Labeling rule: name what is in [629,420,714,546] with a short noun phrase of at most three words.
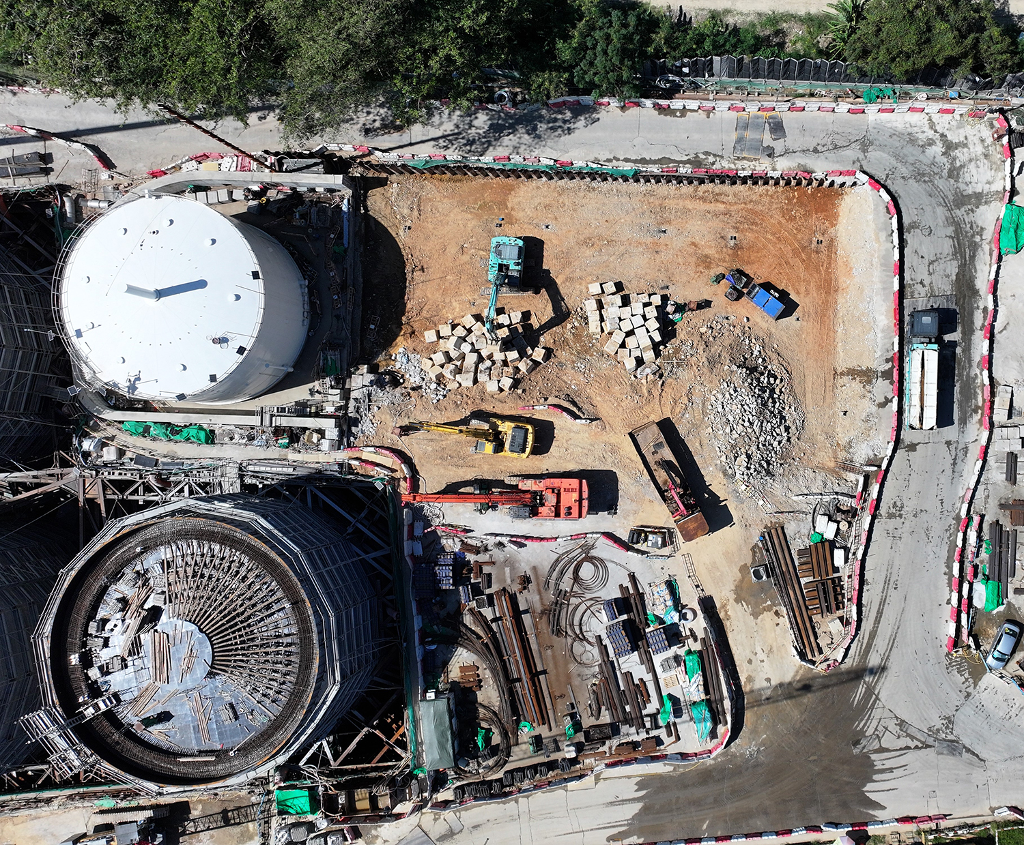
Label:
truck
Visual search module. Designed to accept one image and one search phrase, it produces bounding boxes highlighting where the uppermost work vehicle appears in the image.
[479,225,537,345]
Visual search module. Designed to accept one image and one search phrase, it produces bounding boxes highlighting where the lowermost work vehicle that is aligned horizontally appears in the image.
[397,476,587,525]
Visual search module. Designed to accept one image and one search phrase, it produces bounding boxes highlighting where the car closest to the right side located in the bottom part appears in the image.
[985,617,1022,669]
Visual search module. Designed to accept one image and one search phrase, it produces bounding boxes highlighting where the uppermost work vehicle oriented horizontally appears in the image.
[390,414,541,459]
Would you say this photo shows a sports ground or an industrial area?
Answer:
industrial area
